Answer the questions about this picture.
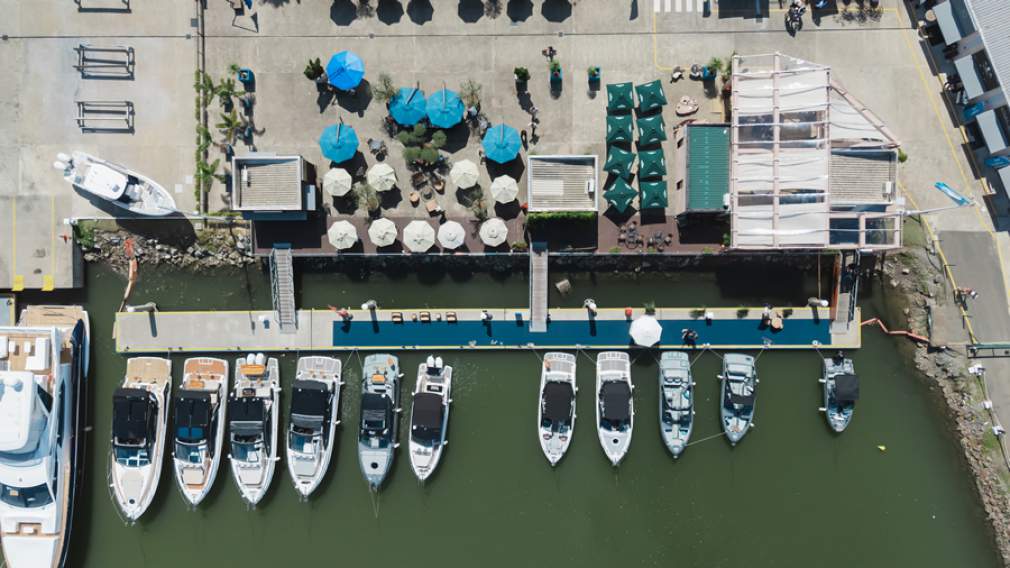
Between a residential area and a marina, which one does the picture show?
marina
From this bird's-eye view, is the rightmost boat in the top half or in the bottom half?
bottom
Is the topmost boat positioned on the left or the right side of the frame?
left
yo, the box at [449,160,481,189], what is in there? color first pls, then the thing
white umbrella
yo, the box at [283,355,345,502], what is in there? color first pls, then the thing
white boat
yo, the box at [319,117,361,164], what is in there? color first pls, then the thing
blue umbrella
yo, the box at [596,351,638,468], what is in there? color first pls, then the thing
white boat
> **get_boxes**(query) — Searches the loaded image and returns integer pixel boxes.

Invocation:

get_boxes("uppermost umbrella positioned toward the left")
[326,53,366,94]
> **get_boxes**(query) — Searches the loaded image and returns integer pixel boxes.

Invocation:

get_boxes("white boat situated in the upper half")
[51,149,181,215]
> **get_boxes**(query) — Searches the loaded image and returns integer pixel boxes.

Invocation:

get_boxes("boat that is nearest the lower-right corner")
[816,352,861,435]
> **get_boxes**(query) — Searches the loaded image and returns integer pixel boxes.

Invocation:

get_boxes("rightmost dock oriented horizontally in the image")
[115,311,861,350]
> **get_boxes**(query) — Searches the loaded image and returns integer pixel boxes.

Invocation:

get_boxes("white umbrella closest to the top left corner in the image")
[322,168,354,197]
